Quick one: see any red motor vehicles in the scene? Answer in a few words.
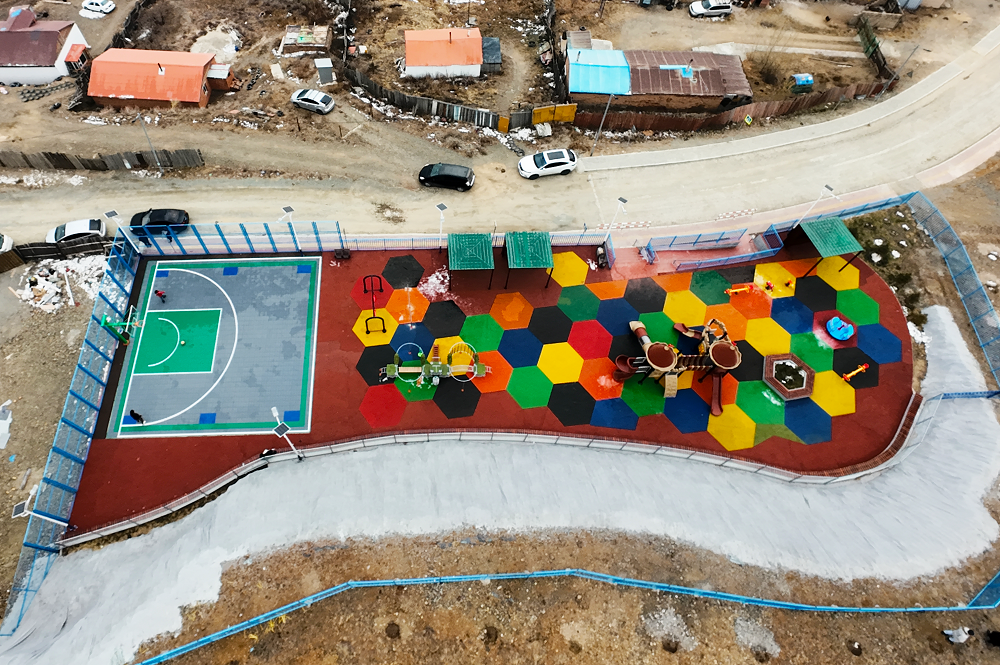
No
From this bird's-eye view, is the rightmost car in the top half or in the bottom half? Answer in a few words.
top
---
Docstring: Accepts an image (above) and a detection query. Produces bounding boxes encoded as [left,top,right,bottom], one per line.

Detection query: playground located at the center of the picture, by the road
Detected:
[63,228,922,538]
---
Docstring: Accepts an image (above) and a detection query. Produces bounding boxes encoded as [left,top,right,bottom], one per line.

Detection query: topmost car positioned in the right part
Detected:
[688,0,733,23]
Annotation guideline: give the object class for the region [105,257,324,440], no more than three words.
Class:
basketball court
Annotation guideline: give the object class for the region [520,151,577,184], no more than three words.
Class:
car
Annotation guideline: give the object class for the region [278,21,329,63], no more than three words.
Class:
shed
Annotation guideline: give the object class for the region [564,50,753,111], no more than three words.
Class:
house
